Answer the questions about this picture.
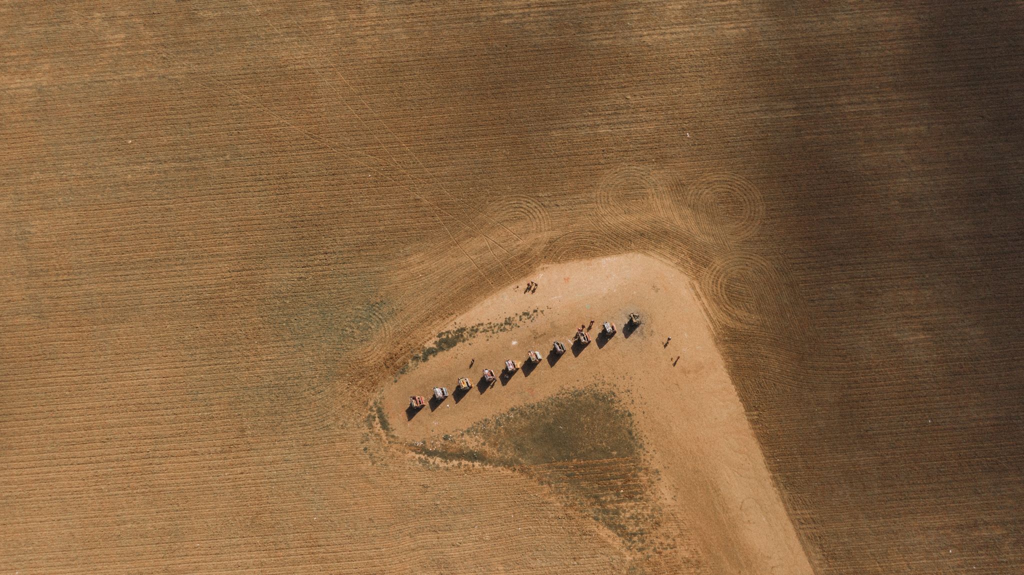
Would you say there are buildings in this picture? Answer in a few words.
No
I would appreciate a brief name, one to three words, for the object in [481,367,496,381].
car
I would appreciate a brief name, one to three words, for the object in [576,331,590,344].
vehicle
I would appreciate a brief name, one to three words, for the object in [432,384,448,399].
car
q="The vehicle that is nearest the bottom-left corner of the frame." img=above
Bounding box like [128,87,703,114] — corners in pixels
[409,393,426,408]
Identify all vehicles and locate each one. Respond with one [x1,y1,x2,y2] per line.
[552,339,566,353]
[526,348,541,362]
[432,384,448,399]
[481,367,496,381]
[576,331,590,344]
[456,375,472,389]
[409,393,426,408]
[629,311,640,324]
[504,357,519,372]
[602,320,615,334]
